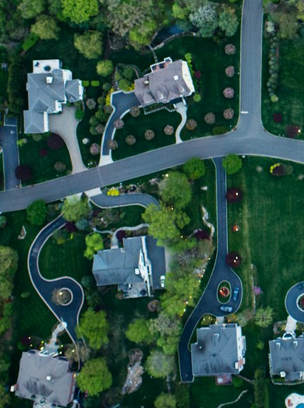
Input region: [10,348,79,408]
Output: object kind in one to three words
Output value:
house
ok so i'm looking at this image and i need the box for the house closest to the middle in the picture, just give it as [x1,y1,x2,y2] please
[92,236,153,296]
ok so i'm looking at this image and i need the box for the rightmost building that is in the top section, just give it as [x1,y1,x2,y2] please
[133,57,194,109]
